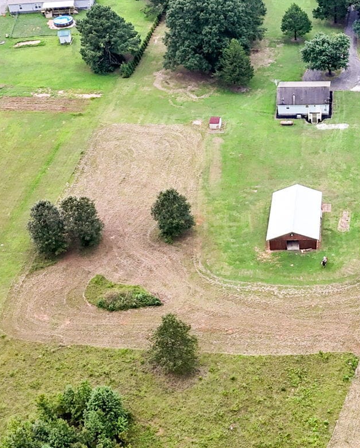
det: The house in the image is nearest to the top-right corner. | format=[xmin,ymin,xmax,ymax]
[275,81,332,125]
